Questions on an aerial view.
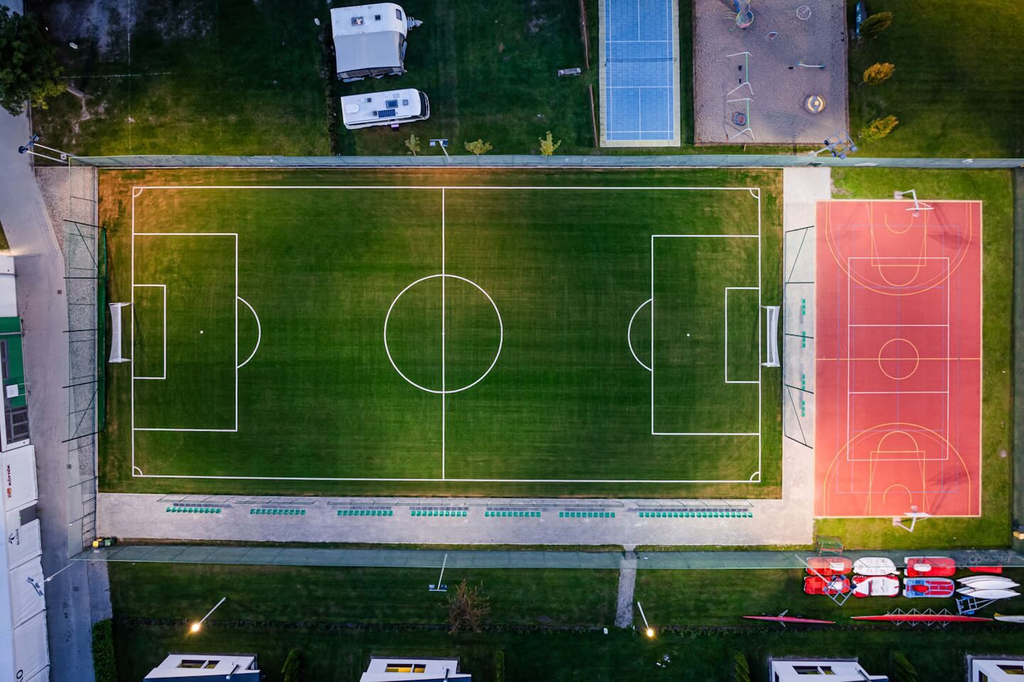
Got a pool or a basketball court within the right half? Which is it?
basketball court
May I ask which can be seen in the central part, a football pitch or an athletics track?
football pitch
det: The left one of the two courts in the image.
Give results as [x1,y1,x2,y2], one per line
[599,0,680,146]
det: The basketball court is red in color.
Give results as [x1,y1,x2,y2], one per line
[816,200,982,517]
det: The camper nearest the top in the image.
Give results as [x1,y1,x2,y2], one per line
[331,4,425,37]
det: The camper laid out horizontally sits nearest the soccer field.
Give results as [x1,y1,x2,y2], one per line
[340,88,433,131]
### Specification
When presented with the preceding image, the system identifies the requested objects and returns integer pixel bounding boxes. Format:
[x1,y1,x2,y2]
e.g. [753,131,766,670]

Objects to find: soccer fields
[99,169,782,500]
